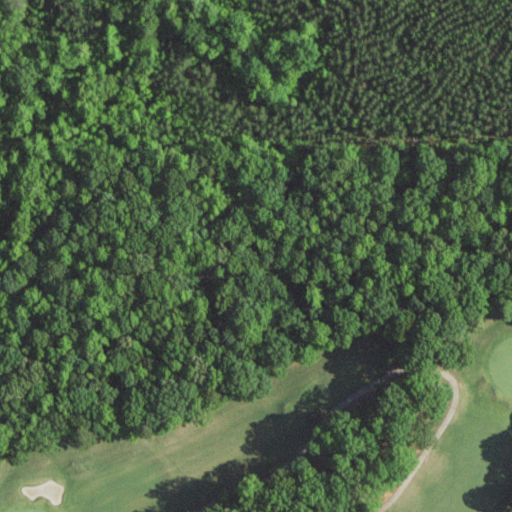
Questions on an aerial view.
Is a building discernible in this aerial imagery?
No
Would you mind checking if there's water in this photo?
No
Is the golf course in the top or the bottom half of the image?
bottom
